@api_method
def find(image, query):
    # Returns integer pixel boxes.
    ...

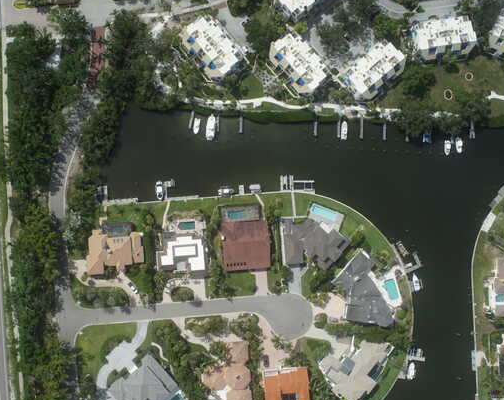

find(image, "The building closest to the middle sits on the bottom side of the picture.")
[220,220,270,271]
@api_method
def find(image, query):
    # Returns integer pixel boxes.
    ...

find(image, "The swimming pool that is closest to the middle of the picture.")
[221,204,261,221]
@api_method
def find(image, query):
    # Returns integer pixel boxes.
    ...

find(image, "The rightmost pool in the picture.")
[491,276,504,305]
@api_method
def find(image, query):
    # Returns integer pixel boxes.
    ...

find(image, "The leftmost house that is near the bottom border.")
[108,354,178,400]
